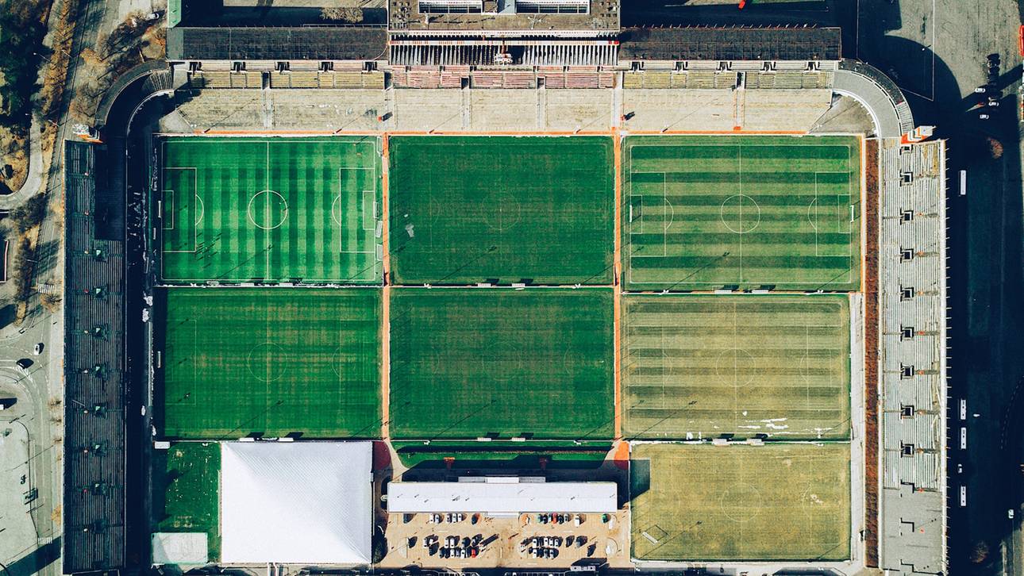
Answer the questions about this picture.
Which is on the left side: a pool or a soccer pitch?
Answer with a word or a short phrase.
soccer pitch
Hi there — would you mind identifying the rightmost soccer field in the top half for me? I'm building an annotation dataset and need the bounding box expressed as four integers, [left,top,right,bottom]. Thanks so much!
[622,136,860,291]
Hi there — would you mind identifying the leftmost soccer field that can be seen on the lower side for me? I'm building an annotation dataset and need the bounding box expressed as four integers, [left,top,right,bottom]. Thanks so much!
[152,287,382,439]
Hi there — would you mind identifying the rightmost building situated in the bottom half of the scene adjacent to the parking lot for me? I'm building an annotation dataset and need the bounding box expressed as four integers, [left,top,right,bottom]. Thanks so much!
[382,473,617,517]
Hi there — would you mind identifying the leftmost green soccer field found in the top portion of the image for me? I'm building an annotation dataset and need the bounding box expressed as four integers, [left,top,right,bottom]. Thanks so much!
[157,136,382,285]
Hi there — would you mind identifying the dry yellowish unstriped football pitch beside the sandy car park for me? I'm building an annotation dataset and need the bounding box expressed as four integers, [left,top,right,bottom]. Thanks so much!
[632,442,851,561]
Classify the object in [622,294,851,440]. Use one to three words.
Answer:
soccer field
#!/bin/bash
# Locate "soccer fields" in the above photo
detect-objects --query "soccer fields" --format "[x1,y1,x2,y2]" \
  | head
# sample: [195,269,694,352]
[622,294,851,440]
[157,136,382,285]
[390,287,615,439]
[152,287,382,439]
[622,136,860,291]
[632,442,851,561]
[390,136,615,285]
